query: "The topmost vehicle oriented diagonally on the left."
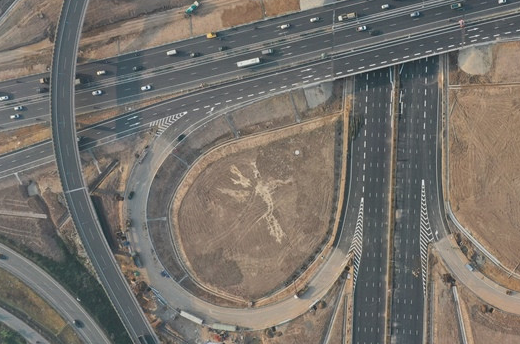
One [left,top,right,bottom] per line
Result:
[183,0,201,15]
